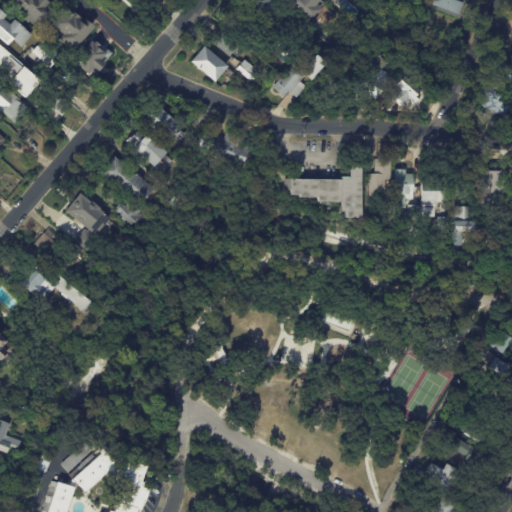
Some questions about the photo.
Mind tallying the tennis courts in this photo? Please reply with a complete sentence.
The count of tennis courts comes to 2.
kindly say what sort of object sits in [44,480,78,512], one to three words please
building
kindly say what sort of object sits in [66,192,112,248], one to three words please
house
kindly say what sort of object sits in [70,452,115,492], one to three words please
building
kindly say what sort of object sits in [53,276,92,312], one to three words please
house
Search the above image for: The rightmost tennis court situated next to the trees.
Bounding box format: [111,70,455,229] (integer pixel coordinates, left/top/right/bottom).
[406,368,458,426]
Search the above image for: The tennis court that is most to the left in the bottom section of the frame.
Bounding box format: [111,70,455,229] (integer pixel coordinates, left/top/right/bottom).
[376,349,428,412]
